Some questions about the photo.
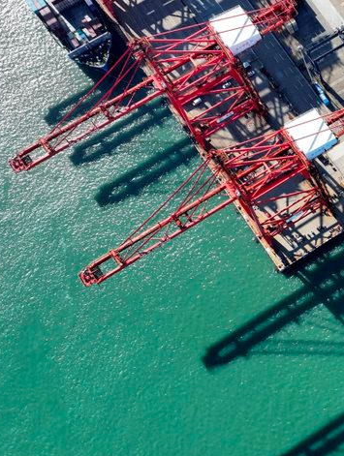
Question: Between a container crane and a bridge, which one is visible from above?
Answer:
container crane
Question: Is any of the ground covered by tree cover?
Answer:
No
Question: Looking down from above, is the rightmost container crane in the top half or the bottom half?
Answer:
top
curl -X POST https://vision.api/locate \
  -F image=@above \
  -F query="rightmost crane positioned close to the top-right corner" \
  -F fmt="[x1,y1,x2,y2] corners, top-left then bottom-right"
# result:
[296,14,344,83]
